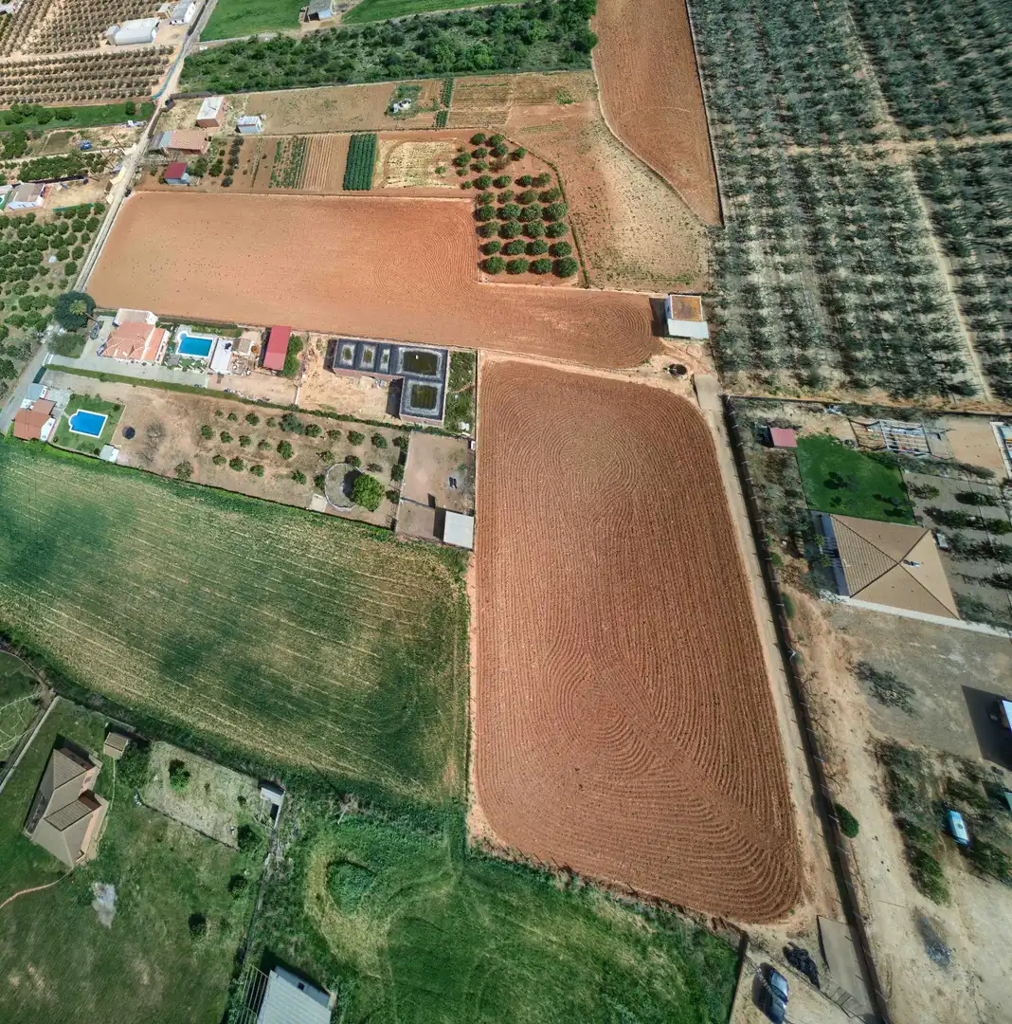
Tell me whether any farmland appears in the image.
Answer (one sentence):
Yes, the picture does contain farmland.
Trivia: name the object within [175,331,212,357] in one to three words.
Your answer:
swimming pool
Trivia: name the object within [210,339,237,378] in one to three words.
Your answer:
building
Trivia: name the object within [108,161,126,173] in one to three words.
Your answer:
vehicle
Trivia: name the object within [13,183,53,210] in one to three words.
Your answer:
house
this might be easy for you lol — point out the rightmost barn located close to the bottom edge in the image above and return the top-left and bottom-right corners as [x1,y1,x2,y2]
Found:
[255,957,337,1024]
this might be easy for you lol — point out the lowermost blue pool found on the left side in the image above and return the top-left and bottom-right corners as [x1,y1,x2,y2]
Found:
[66,409,105,437]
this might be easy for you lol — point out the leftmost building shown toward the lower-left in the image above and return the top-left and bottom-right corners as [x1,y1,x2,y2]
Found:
[32,749,108,869]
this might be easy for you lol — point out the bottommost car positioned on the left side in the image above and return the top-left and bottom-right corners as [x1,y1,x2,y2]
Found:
[86,324,103,341]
